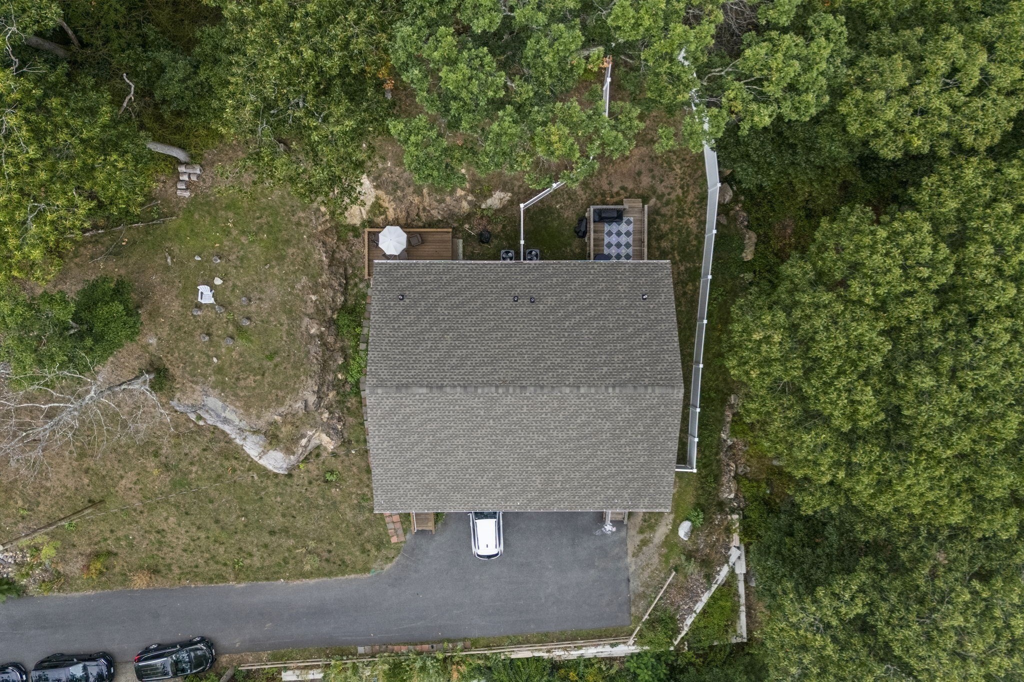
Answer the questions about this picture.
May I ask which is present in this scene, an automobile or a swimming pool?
automobile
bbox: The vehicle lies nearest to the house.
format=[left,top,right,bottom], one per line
[470,514,504,560]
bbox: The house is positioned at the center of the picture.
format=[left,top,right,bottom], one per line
[365,259,683,515]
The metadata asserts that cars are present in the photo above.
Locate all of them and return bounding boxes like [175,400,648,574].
[132,636,216,682]
[30,650,118,682]
[470,514,504,560]
[0,664,30,682]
